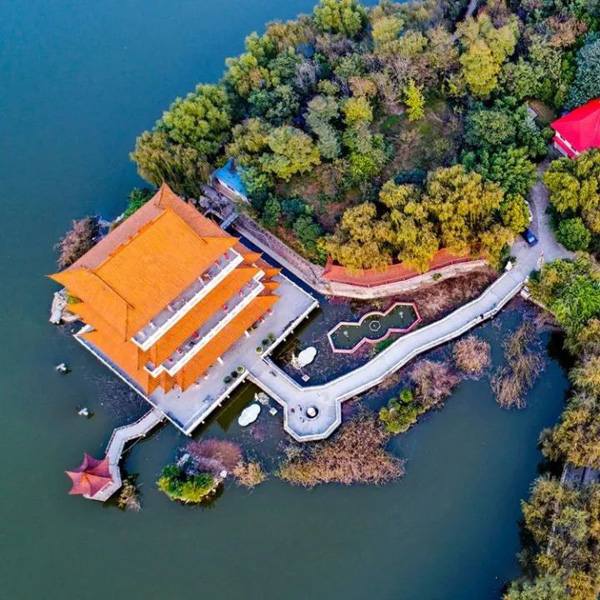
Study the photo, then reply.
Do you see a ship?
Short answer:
No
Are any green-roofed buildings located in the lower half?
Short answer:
No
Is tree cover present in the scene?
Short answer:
Yes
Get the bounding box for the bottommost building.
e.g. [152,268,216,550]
[60,448,122,507]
